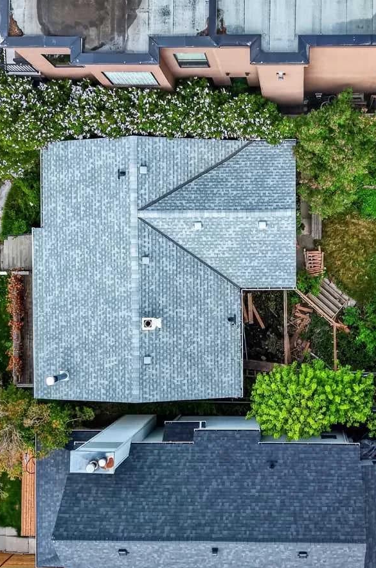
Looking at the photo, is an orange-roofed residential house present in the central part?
No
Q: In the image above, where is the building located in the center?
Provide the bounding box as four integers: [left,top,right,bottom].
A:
[31,135,297,402]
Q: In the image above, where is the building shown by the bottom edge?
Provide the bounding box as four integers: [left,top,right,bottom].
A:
[34,413,376,568]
